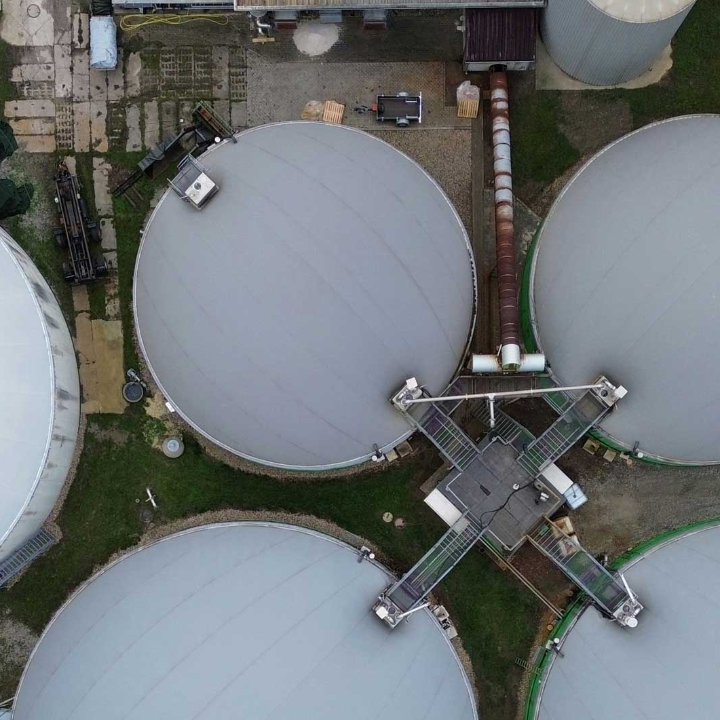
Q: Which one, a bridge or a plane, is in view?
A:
bridge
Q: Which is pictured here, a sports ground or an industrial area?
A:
industrial area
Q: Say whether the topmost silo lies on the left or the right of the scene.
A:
right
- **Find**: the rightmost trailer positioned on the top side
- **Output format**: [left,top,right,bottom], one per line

[352,90,422,131]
